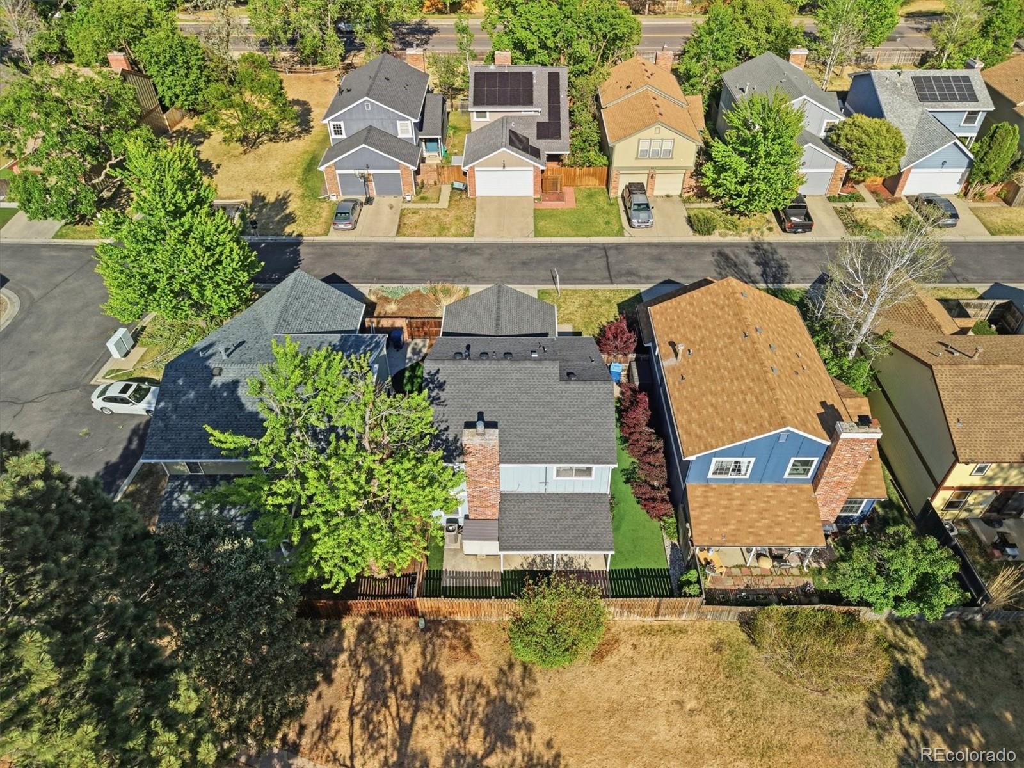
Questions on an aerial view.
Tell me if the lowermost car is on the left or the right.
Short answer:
left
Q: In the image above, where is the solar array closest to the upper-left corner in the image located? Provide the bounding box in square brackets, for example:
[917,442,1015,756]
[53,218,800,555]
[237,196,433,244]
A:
[473,71,533,106]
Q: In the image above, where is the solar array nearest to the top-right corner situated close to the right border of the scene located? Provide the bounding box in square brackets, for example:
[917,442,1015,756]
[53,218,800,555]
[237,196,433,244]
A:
[912,75,978,102]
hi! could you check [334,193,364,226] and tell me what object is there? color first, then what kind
gray car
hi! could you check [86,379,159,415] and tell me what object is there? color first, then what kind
white car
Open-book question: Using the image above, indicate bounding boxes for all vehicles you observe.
[916,188,963,223]
[86,379,159,415]
[334,193,364,226]
[772,188,815,227]
[625,184,655,224]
